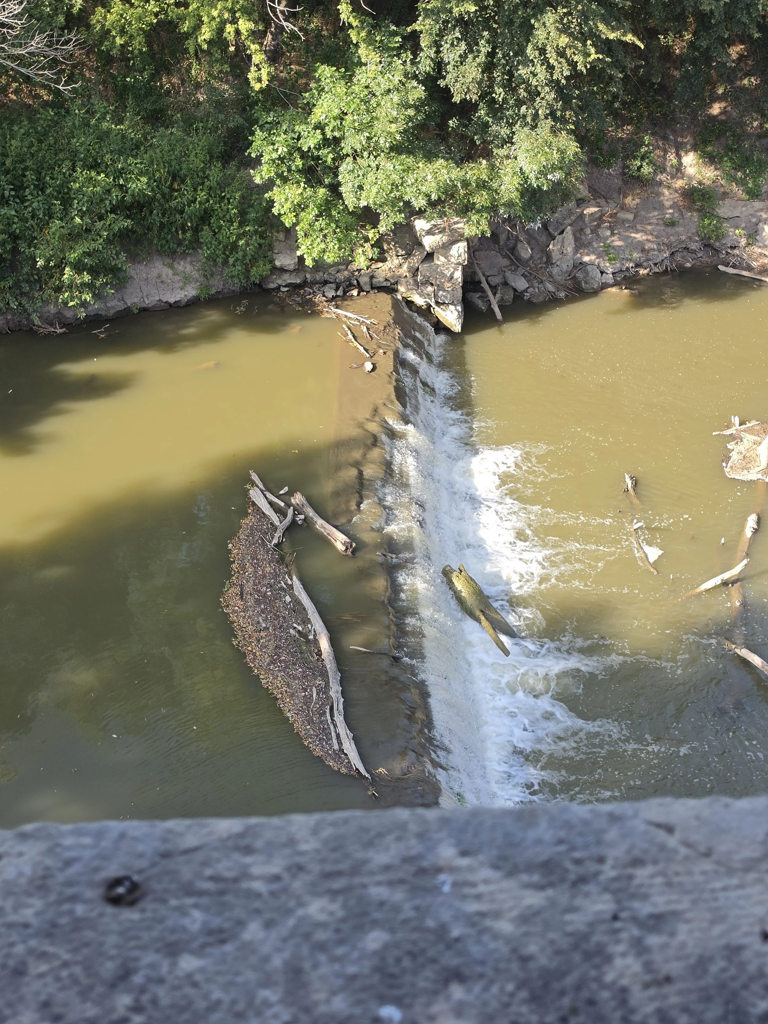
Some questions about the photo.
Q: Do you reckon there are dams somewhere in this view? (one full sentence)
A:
Yes, a dam is visible in the scene.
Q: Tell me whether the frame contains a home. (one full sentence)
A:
No, the photo shows no home.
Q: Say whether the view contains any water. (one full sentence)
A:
Yes, there's water in this view.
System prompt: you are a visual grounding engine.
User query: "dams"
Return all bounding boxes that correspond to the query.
[329,283,457,813]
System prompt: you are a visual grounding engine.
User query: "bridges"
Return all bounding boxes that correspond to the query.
[0,797,768,1024]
